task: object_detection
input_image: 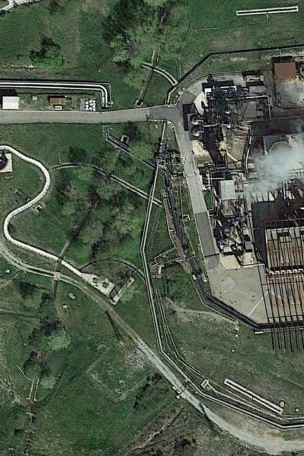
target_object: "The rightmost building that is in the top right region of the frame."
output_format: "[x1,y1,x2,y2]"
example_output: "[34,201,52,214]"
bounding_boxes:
[275,62,297,81]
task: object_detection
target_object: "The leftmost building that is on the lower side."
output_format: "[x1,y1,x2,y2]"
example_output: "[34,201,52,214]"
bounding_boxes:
[84,274,115,297]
